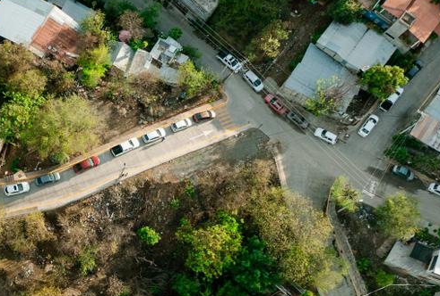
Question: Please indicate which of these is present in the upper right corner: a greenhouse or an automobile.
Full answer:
It is an automobile that can be seen in the upper right corner.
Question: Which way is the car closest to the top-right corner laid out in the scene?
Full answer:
In this picture, the car closest to the top-right corner is oriented on a diagonal.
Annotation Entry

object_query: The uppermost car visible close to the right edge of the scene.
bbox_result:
[401,56,425,82]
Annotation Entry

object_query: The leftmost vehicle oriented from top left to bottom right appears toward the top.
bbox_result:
[214,49,242,71]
